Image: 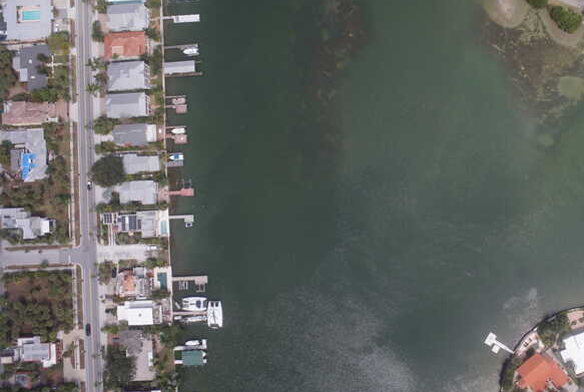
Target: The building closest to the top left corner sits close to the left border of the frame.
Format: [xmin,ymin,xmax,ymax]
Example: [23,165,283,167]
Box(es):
[4,0,57,43]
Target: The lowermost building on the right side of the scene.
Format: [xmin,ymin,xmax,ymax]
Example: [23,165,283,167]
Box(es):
[516,353,567,392]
